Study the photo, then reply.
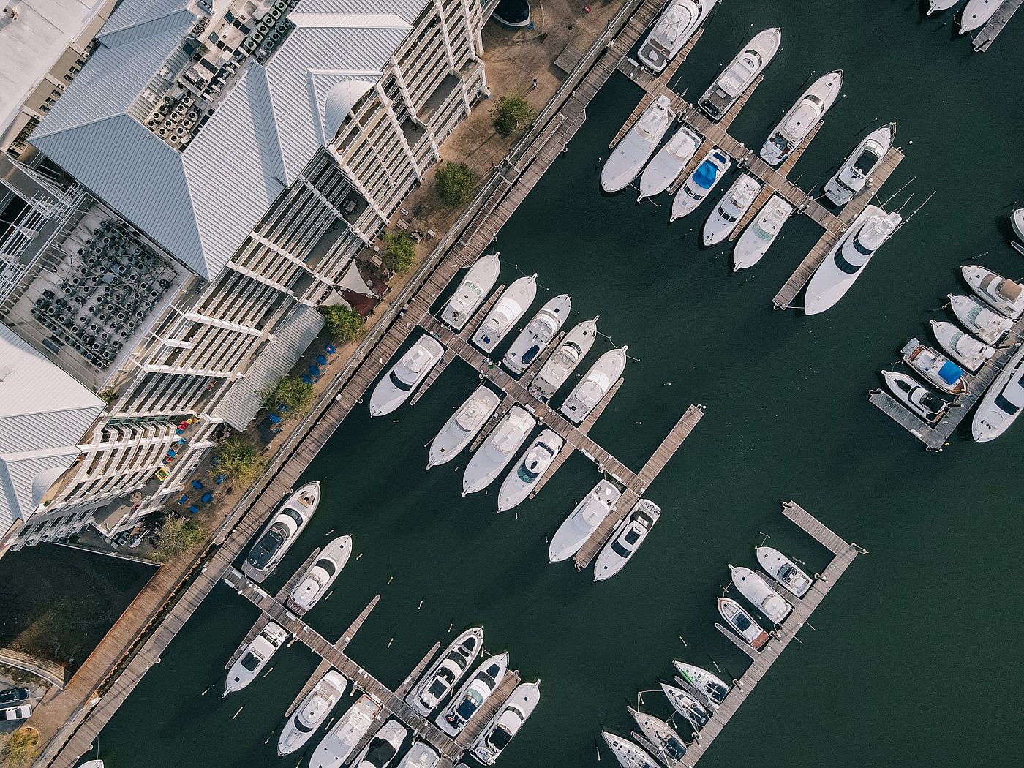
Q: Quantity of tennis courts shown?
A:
none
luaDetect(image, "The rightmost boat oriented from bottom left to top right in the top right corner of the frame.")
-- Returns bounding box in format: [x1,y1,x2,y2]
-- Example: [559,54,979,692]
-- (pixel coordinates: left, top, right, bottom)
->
[958,0,1005,32]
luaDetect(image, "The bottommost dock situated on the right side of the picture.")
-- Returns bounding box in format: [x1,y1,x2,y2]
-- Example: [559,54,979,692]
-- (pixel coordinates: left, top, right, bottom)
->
[630,500,855,768]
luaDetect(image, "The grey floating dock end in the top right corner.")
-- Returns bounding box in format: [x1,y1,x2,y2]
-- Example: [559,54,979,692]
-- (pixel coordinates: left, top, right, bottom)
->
[971,0,1022,53]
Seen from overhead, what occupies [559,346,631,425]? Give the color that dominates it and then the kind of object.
white boat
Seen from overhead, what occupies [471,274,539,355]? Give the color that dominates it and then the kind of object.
white boat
